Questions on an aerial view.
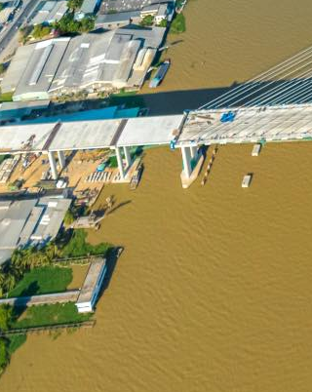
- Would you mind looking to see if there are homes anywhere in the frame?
Yes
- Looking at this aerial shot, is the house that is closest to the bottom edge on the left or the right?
left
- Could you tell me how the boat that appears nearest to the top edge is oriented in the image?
diagonally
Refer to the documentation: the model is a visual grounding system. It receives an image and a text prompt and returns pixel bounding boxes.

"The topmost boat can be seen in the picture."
[147,57,170,86]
